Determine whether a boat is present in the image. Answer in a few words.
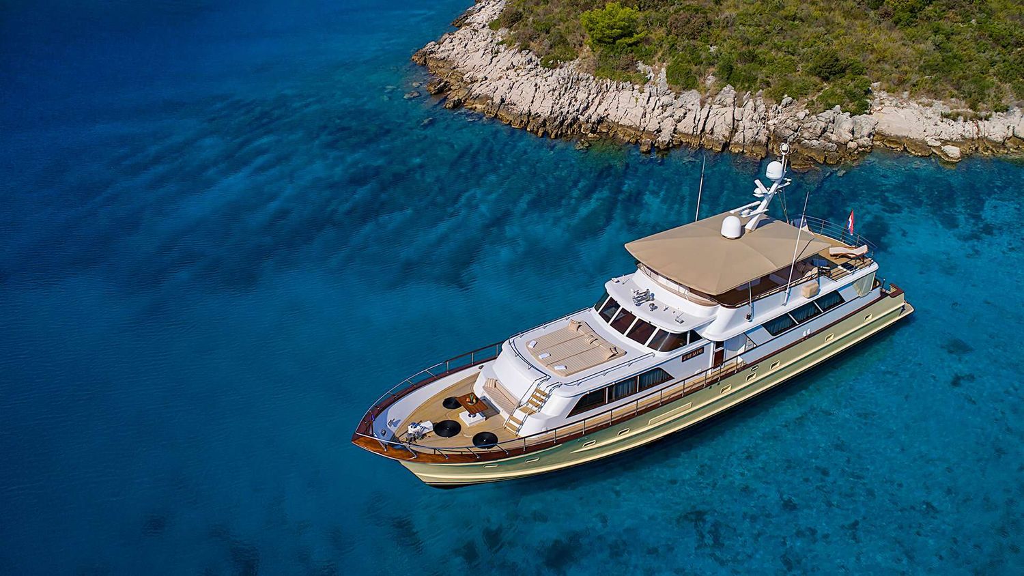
Yes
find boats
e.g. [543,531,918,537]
[347,146,909,497]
